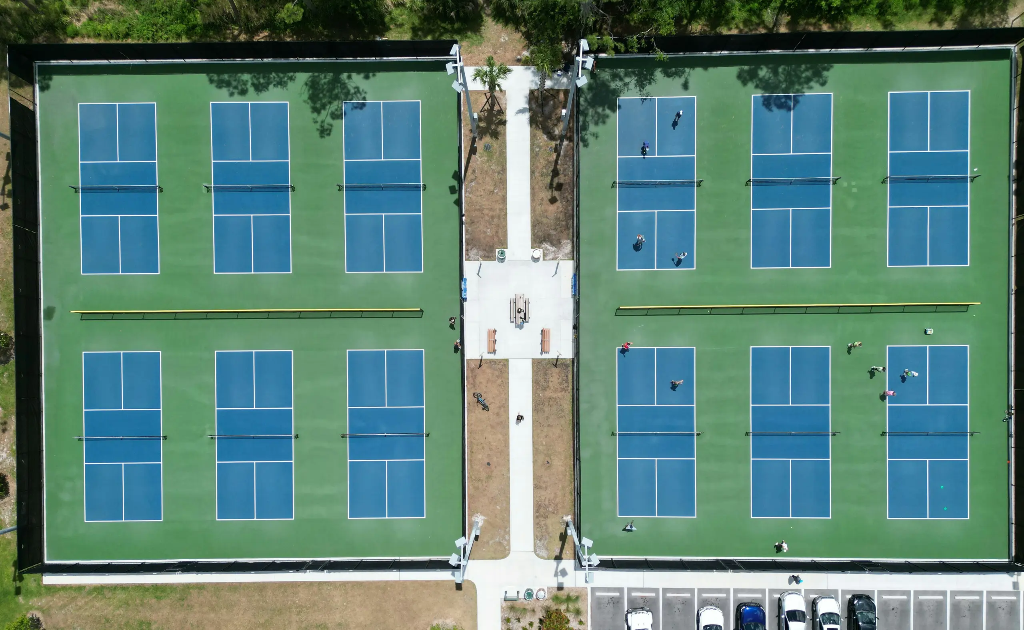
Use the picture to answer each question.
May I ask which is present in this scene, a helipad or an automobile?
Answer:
automobile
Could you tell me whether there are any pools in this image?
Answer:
No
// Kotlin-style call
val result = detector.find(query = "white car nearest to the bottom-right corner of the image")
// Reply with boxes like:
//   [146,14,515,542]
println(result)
[813,596,846,630]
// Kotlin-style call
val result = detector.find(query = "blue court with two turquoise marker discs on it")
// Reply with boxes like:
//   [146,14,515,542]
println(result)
[887,345,969,519]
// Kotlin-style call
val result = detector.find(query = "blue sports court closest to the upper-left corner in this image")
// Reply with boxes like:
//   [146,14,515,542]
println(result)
[78,102,159,274]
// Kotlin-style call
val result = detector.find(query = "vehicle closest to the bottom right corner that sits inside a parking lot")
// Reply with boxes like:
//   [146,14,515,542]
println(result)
[848,595,882,630]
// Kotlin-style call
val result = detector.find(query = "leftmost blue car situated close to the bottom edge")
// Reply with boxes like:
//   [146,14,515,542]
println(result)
[737,603,769,630]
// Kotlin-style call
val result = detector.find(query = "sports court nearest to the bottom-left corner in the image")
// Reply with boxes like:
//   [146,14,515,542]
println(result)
[82,352,162,521]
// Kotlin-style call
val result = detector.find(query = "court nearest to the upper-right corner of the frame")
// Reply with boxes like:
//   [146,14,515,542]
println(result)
[888,90,970,266]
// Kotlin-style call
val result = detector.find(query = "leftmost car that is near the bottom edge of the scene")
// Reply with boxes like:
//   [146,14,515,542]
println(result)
[625,607,651,630]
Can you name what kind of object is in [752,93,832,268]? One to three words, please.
sports court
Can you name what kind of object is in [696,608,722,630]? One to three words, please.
car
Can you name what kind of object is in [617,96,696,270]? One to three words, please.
sports court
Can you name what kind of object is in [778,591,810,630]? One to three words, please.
car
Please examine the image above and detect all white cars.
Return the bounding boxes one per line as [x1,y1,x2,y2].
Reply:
[625,607,651,630]
[696,608,722,630]
[813,596,846,630]
[778,591,810,630]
